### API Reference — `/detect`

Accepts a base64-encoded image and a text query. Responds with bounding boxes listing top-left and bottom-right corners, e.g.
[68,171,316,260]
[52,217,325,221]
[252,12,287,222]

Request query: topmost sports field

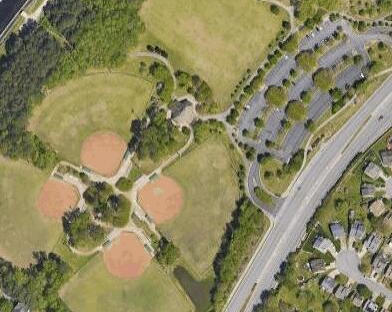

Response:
[140,0,283,110]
